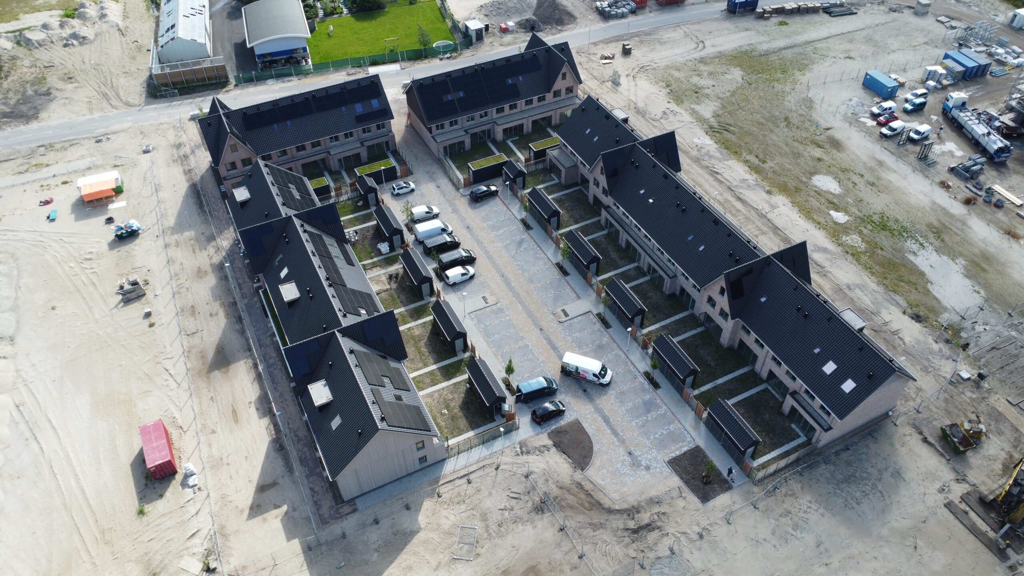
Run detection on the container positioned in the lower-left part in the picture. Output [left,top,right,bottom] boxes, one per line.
[138,419,178,481]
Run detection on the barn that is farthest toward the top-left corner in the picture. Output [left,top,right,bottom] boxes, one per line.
[155,0,213,63]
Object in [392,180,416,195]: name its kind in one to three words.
car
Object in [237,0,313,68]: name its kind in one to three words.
building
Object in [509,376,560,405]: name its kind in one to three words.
van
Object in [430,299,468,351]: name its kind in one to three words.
shed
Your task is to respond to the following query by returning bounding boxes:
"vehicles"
[424,230,461,252]
[392,180,416,195]
[870,101,899,116]
[439,246,476,267]
[902,97,930,113]
[943,93,1012,159]
[409,204,439,221]
[531,401,566,425]
[564,352,613,386]
[469,183,499,201]
[411,216,452,241]
[509,376,560,405]
[875,111,900,126]
[881,118,908,137]
[902,86,930,100]
[908,122,934,141]
[443,265,476,286]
